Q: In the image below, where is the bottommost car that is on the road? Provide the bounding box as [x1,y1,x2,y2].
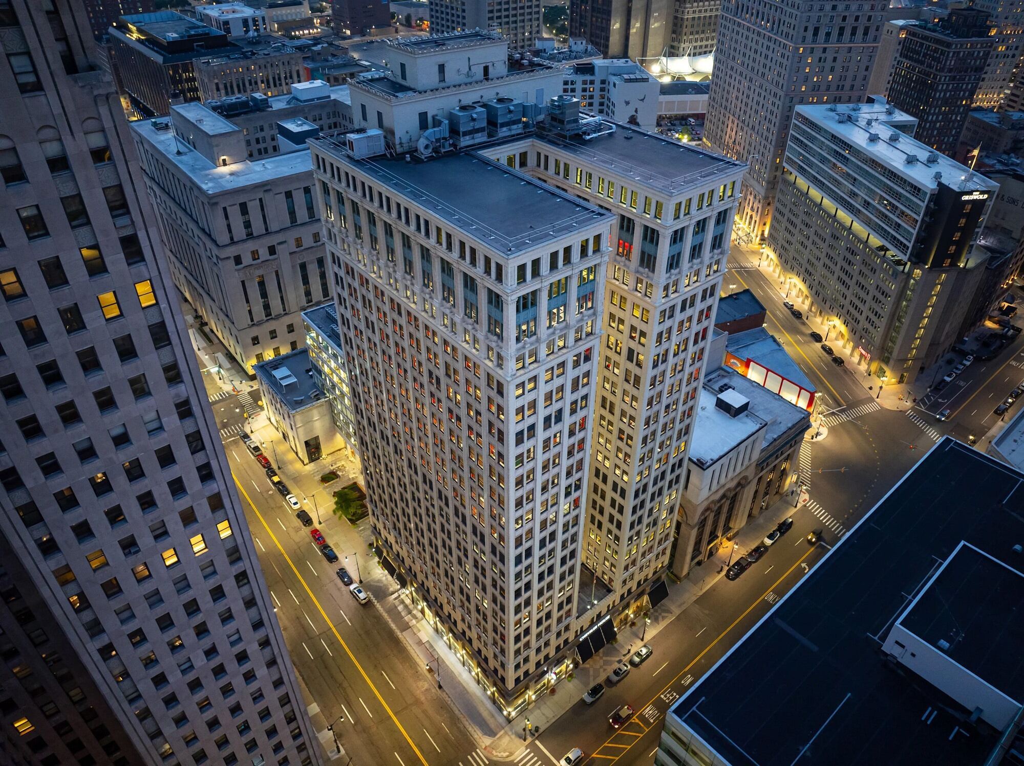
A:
[557,743,583,766]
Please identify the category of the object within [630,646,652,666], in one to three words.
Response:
car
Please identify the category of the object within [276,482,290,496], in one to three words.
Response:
car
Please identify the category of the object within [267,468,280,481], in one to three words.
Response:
vehicle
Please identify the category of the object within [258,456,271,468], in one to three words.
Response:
vehicle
